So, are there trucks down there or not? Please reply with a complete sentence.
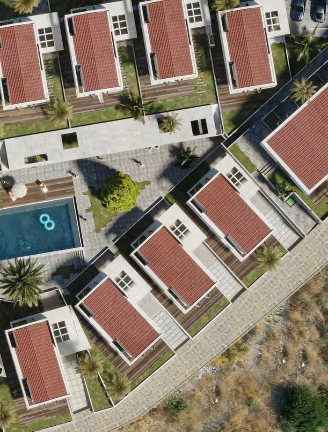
No, there isn't any truck down there.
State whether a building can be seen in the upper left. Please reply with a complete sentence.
Yes, a building can be seen in the upper left.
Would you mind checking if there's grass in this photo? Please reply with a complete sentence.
Yes, there's grass in this view.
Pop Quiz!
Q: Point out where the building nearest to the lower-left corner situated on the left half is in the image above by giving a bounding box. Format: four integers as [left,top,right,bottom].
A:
[4,306,91,410]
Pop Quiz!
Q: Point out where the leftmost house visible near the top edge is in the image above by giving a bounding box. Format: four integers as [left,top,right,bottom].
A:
[0,13,65,115]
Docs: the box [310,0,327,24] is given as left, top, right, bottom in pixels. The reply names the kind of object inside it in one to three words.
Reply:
car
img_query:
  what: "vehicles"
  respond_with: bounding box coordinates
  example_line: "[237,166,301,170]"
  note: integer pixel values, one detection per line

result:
[310,0,327,24]
[291,0,307,22]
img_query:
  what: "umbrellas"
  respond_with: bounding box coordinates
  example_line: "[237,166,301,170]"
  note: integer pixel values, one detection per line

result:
[12,182,27,198]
